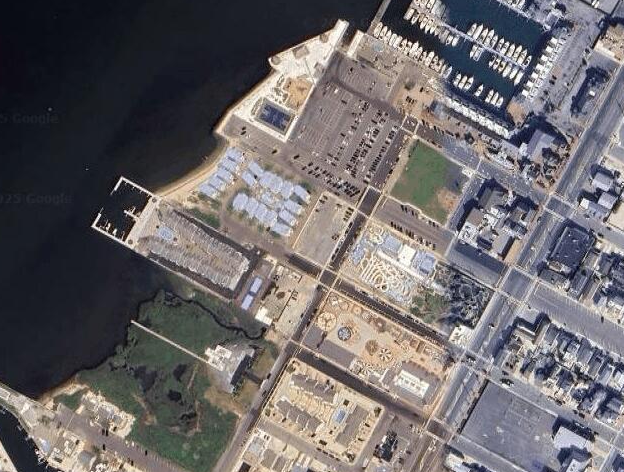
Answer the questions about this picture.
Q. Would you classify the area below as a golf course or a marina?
marina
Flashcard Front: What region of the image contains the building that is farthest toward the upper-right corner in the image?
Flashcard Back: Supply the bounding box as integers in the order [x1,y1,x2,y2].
[603,22,624,55]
